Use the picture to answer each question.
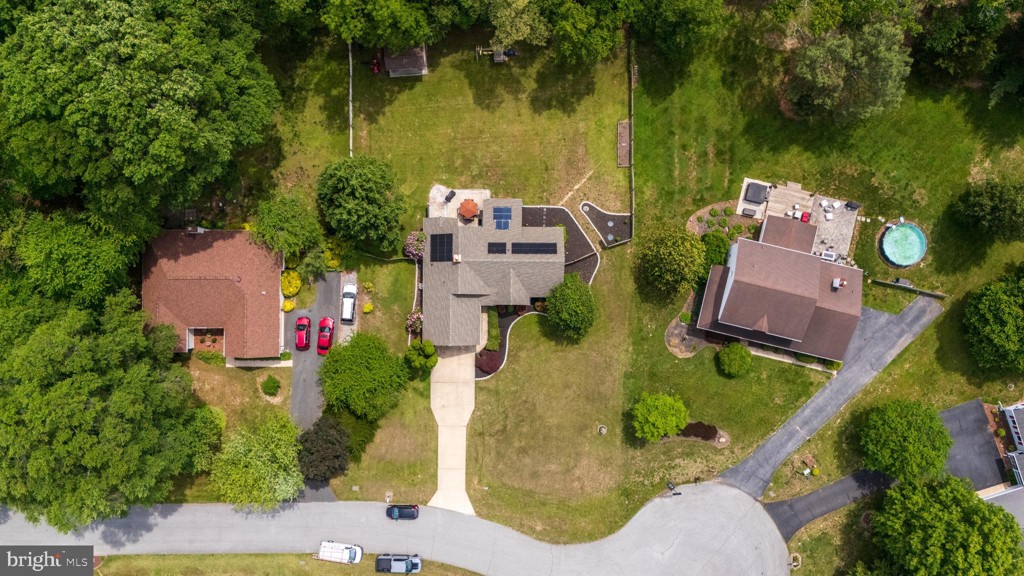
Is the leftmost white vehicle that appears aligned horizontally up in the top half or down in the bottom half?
bottom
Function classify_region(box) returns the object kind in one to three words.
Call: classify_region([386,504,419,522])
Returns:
car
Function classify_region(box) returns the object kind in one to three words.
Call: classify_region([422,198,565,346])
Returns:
house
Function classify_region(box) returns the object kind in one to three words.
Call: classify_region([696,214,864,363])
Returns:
house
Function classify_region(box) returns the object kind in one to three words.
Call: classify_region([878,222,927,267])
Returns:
swimming pool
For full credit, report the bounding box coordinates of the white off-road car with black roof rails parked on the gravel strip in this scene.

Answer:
[341,284,360,325]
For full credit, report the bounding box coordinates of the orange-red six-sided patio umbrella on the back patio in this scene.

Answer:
[460,199,477,219]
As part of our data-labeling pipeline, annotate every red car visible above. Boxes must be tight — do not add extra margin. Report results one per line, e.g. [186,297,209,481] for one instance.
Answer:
[317,316,335,355]
[294,315,313,350]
